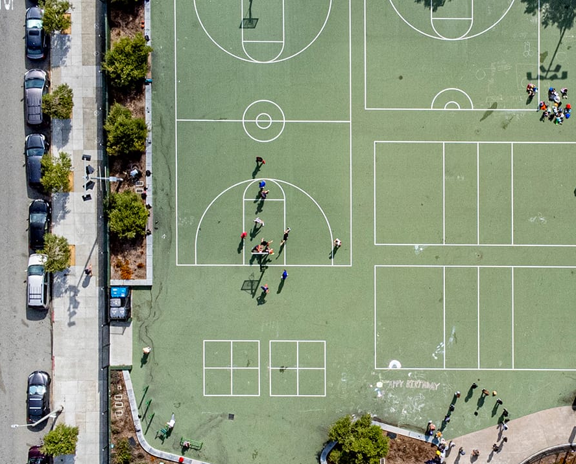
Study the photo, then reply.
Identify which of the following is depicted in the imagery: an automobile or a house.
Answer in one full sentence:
Visible in the photo is an automobile.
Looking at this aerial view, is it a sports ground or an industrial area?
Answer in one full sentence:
This image shows a sports ground.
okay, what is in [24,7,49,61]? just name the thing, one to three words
car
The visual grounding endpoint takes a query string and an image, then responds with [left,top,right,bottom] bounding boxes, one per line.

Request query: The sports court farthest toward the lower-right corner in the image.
[374,266,576,371]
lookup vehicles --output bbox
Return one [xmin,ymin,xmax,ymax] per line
[26,253,52,309]
[21,133,48,187]
[22,68,49,126]
[26,444,50,464]
[26,198,52,252]
[25,371,52,423]
[24,7,49,61]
